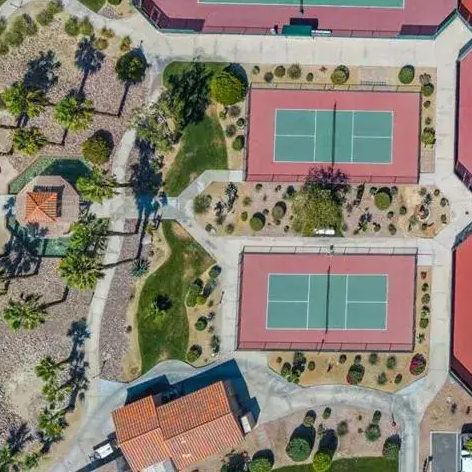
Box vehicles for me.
[94,437,119,459]
[460,431,472,472]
